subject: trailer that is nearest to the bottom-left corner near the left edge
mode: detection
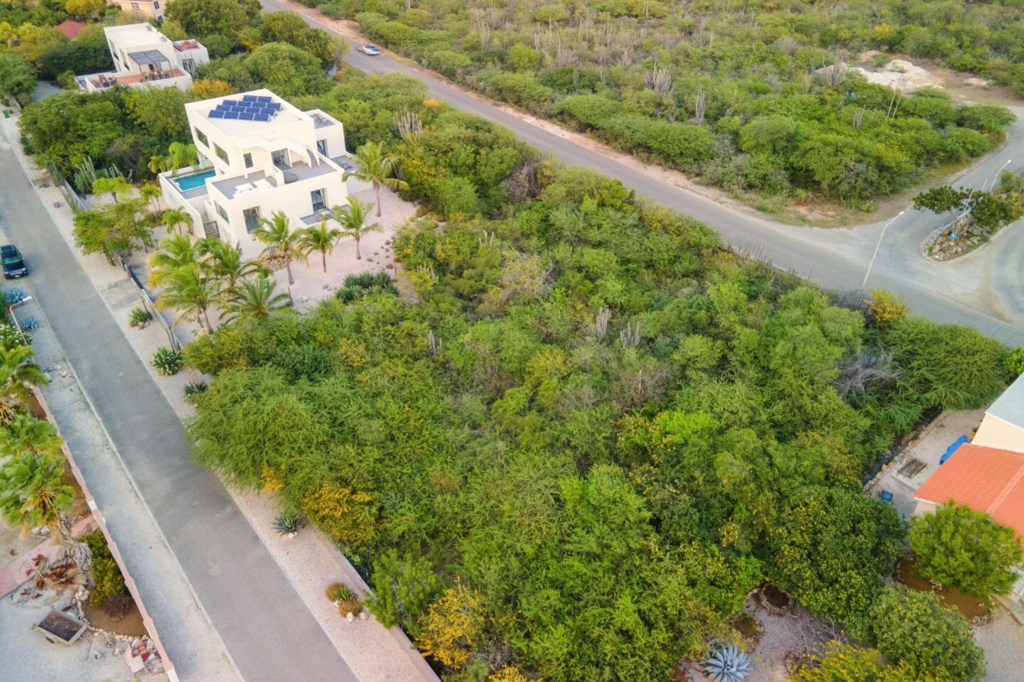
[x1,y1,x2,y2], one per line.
[33,601,89,647]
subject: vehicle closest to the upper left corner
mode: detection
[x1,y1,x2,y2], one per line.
[0,239,31,279]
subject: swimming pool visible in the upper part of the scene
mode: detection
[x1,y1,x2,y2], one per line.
[178,172,217,192]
